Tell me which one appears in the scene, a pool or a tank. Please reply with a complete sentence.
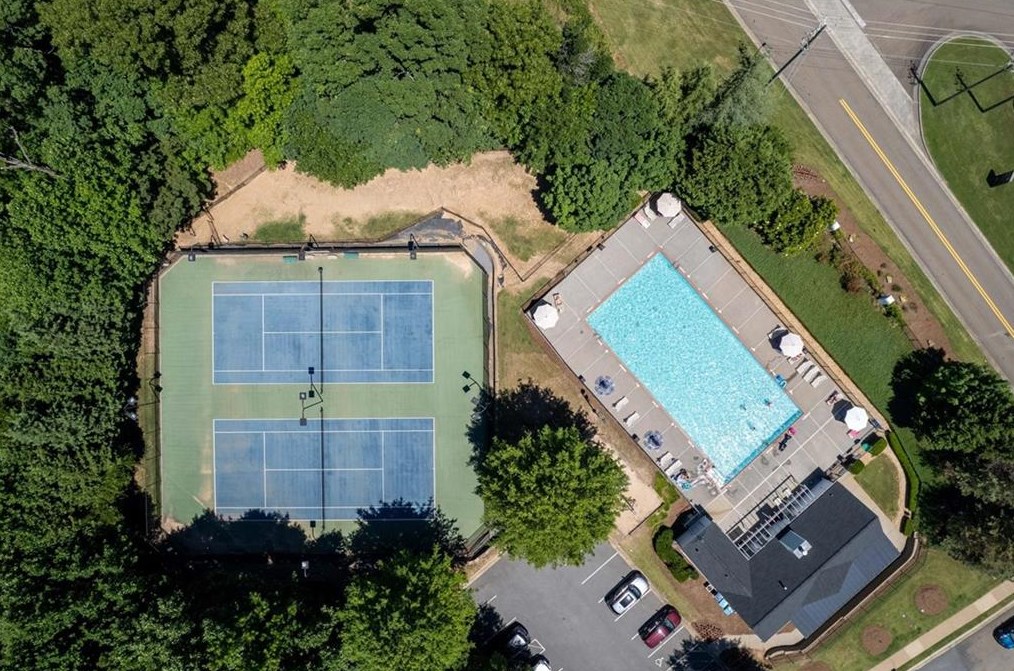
It is a pool that can be seen here.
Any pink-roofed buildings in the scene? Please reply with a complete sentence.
No, no pink-roofed building is visible in the scene.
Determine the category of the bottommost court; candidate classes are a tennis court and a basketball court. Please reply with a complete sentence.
I'd say the bottommost court is a tennis court.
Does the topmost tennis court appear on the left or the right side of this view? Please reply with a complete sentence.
The topmost tennis court sits on the left side.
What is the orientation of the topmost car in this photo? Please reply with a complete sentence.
What the image shows is the topmost car lying at an angle.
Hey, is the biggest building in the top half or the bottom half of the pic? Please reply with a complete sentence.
Seen from above, the biggest building lies in the bottom half of the view.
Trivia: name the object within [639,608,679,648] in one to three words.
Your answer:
car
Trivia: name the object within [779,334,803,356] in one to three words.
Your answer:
umbrella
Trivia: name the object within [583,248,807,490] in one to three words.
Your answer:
swimming pool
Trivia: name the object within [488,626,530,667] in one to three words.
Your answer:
car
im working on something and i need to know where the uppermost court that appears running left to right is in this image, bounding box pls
[212,281,434,383]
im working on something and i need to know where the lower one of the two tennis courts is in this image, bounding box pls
[214,419,435,521]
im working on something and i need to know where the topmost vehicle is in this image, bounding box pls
[604,573,647,615]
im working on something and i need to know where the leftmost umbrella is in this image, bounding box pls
[534,304,558,329]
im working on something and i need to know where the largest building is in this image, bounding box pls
[674,481,900,641]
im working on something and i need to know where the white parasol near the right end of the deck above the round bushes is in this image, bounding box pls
[844,406,868,431]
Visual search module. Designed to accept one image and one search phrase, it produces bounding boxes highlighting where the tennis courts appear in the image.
[212,281,434,383]
[214,419,435,521]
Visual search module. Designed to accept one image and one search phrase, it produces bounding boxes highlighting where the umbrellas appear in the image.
[779,334,803,356]
[844,406,868,431]
[534,304,558,329]
[658,194,680,217]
